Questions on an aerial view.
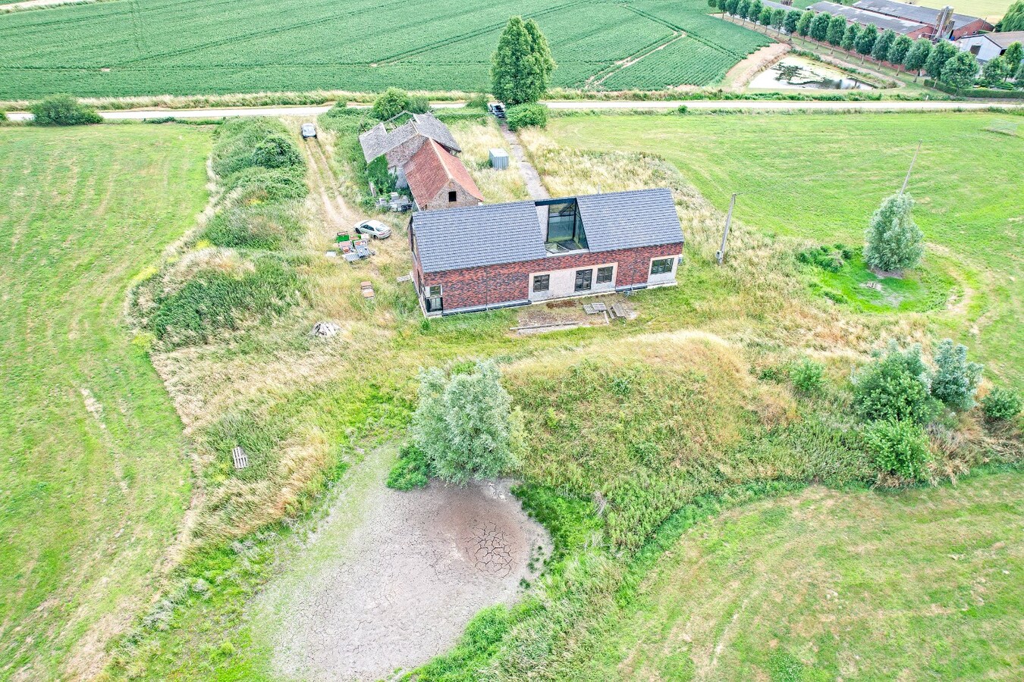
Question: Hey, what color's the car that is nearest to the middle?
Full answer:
The car that is nearest to the middle looks white in the image.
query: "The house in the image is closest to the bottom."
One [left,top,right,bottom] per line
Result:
[413,184,688,317]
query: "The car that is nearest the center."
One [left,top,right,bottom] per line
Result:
[355,217,396,239]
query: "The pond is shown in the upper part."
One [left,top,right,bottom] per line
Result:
[750,61,883,91]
